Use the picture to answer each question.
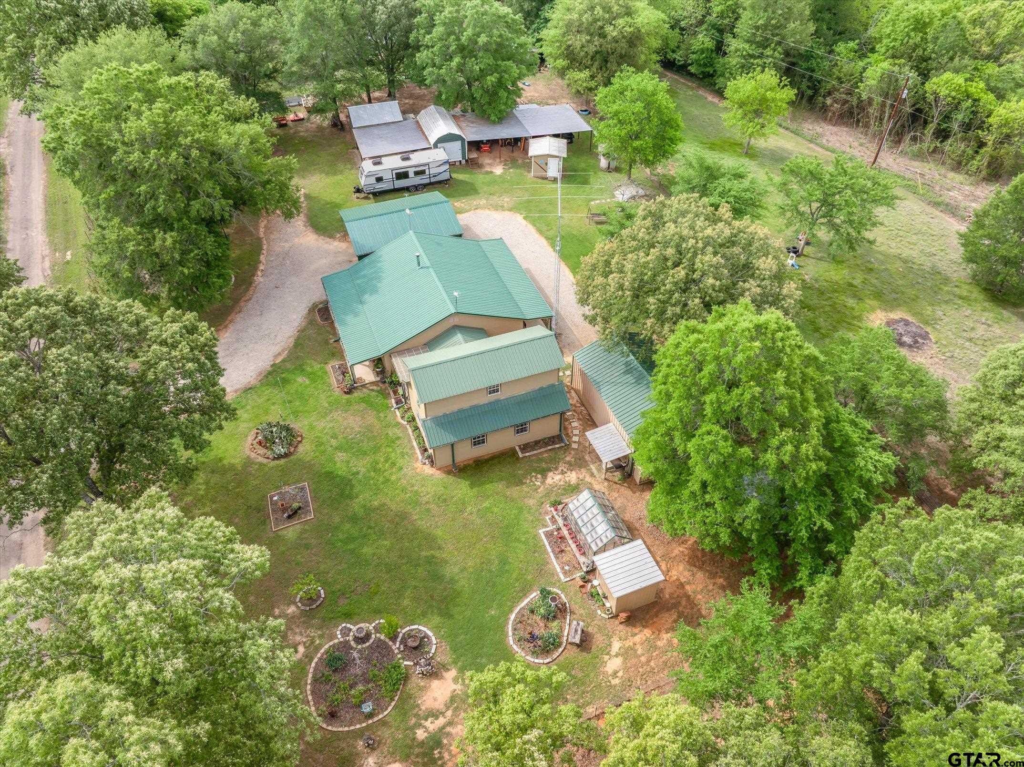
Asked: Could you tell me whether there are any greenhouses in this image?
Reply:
Yes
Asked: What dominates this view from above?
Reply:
trees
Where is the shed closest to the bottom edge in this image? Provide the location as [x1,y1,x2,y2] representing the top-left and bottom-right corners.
[593,537,666,614]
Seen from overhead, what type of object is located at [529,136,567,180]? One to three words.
shed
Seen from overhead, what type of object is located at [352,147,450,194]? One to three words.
trailer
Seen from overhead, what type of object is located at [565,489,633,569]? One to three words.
greenhouse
